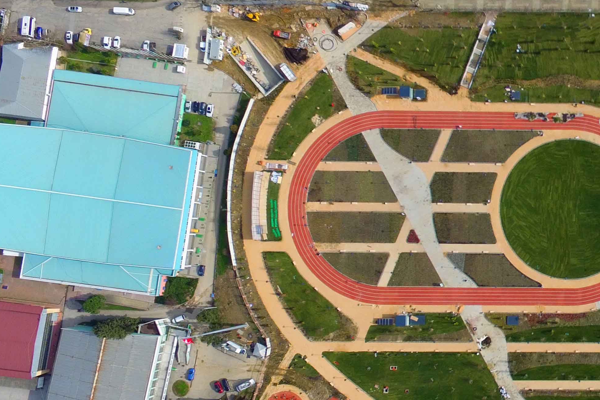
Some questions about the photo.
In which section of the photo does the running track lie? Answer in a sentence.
Look in the right portion of the view to spot the running track.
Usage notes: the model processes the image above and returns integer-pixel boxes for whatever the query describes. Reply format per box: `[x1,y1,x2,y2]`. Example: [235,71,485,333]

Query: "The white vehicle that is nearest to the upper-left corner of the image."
[17,14,31,36]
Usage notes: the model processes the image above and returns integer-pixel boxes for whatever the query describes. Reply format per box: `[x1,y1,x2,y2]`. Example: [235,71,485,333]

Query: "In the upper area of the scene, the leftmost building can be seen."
[0,43,74,122]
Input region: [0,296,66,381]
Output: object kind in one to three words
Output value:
building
